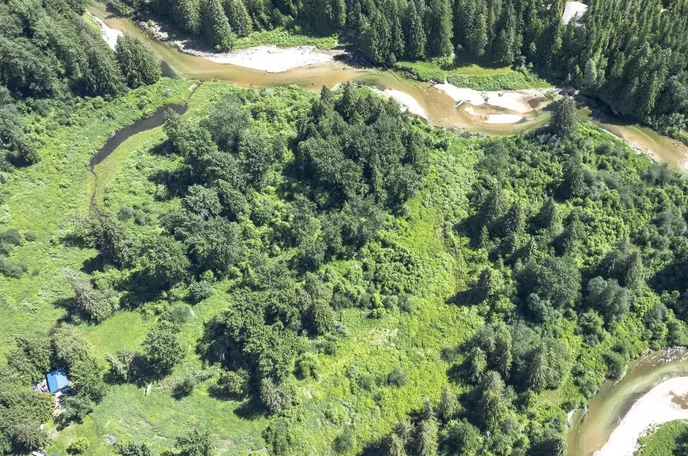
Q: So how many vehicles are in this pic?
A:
none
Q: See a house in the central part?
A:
No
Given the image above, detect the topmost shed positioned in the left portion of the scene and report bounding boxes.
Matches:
[47,369,73,398]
